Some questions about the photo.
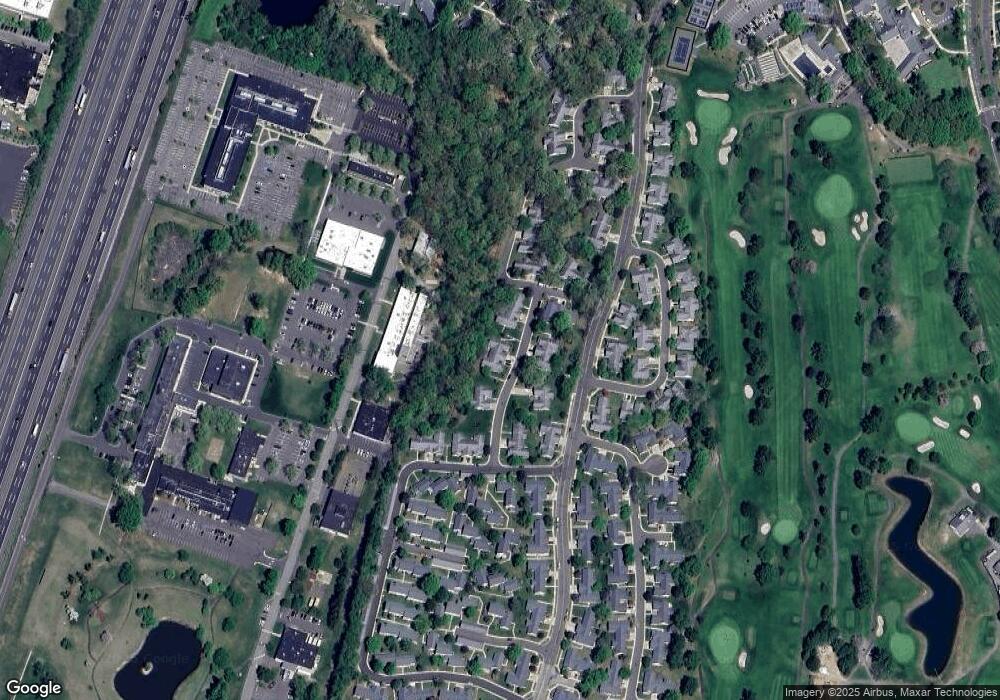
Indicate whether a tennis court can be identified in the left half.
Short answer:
No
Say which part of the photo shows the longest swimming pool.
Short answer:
top right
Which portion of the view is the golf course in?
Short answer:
right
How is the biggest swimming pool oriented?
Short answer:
diagonally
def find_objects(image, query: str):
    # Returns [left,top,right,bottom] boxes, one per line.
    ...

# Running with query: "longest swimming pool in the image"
[780,37,836,80]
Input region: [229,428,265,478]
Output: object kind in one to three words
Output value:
building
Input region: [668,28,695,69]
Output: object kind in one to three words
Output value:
tennis court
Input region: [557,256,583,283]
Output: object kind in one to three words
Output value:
house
